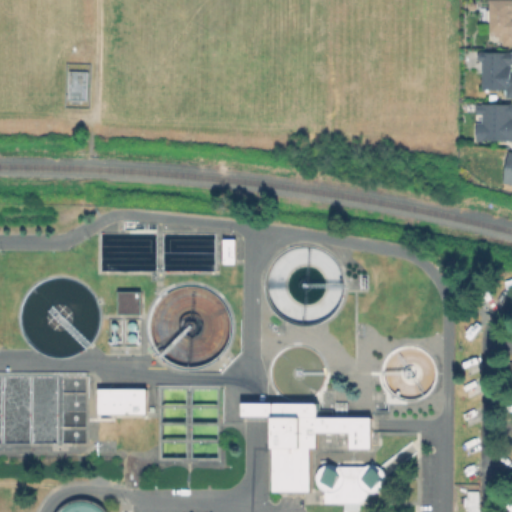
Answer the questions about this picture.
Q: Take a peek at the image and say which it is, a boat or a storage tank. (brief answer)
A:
storage tank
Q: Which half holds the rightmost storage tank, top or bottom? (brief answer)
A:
bottom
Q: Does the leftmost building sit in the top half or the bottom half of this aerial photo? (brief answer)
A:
top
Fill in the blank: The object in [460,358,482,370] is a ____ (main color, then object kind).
white vehicle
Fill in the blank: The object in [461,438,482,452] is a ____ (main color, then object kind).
white vehicle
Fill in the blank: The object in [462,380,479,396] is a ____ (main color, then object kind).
white camper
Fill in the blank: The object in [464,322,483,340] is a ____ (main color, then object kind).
white camper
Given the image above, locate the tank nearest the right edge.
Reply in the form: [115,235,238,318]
[372,346,438,404]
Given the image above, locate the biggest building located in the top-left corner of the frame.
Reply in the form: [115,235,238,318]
[70,72,89,102]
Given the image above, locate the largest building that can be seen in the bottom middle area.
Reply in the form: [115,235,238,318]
[240,403,372,494]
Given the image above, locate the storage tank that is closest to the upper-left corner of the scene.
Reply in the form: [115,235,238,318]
[100,232,158,273]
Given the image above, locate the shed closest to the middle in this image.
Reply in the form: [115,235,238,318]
[222,239,236,266]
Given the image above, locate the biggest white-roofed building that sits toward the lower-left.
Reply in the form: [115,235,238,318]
[90,388,146,422]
